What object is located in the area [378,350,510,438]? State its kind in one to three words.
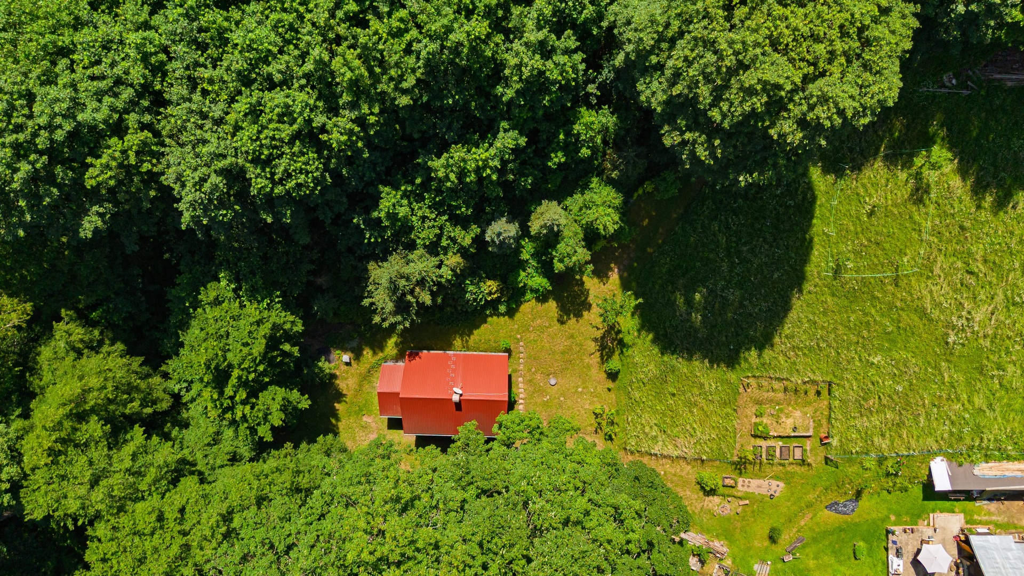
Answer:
house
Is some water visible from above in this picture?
No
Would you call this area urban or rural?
rural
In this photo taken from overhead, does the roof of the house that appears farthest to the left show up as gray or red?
red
